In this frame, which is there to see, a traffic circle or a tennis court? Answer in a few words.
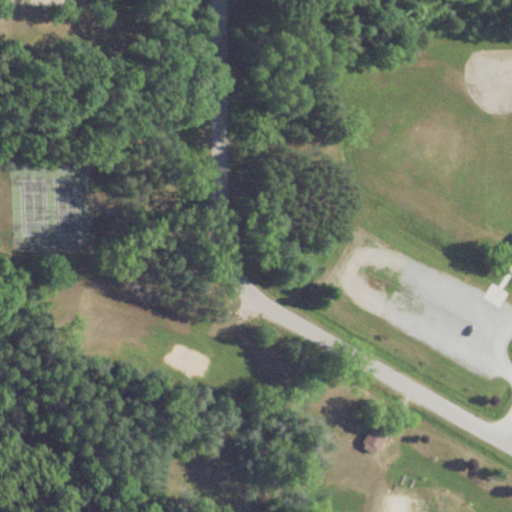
tennis court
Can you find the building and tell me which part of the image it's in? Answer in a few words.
bottom right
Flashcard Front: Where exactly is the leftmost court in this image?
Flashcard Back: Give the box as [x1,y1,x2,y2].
[12,170,52,249]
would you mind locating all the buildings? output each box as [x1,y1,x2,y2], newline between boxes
[362,434,390,456]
